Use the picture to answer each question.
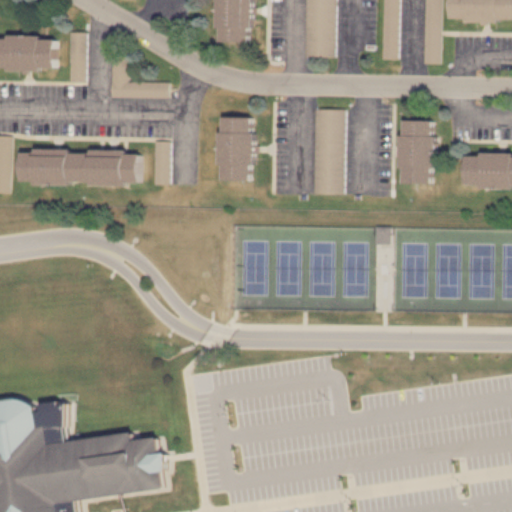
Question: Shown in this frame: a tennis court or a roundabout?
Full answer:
Visible in the photo is a tennis court.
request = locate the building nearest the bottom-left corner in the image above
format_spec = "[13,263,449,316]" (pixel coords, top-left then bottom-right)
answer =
[0,394,172,512]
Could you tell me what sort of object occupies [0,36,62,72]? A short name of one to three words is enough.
building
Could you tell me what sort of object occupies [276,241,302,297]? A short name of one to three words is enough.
tennis court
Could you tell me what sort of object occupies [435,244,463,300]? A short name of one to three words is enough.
tennis court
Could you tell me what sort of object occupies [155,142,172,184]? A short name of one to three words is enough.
building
